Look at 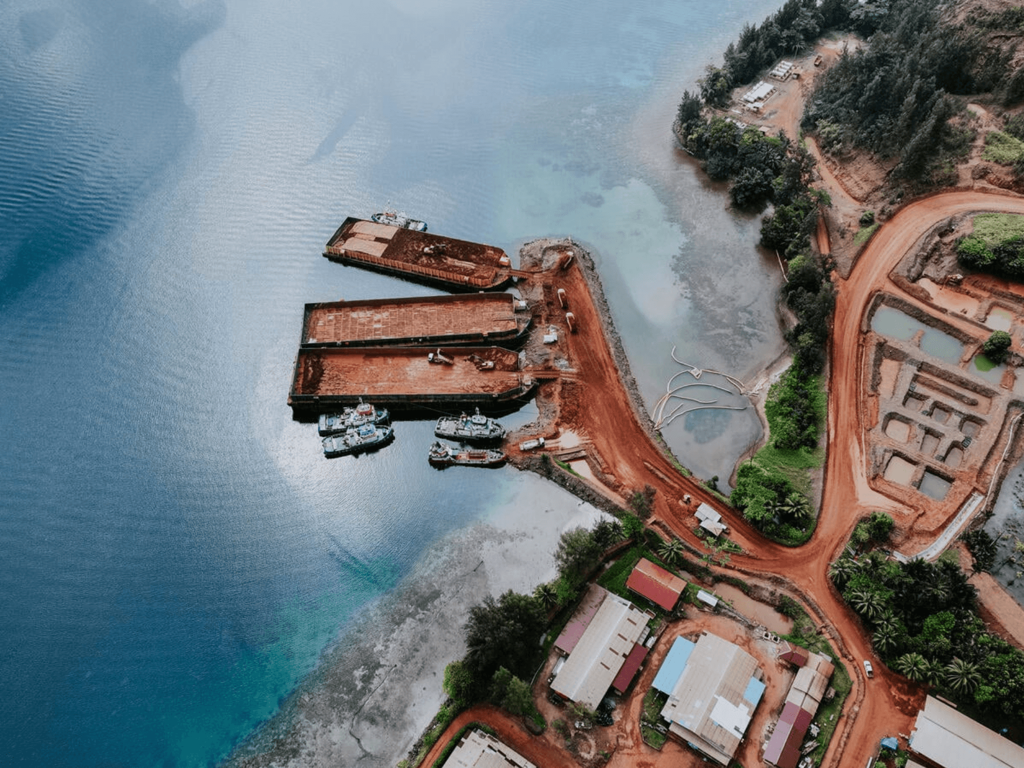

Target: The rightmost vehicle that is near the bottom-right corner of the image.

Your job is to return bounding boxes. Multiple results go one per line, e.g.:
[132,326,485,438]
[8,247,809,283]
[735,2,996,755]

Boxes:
[862,660,874,678]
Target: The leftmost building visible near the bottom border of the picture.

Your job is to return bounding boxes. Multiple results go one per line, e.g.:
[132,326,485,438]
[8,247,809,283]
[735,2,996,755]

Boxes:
[444,730,536,768]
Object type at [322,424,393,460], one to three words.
boat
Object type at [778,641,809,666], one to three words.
building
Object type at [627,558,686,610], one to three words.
house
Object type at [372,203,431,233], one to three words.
boat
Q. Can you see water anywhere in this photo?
Yes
